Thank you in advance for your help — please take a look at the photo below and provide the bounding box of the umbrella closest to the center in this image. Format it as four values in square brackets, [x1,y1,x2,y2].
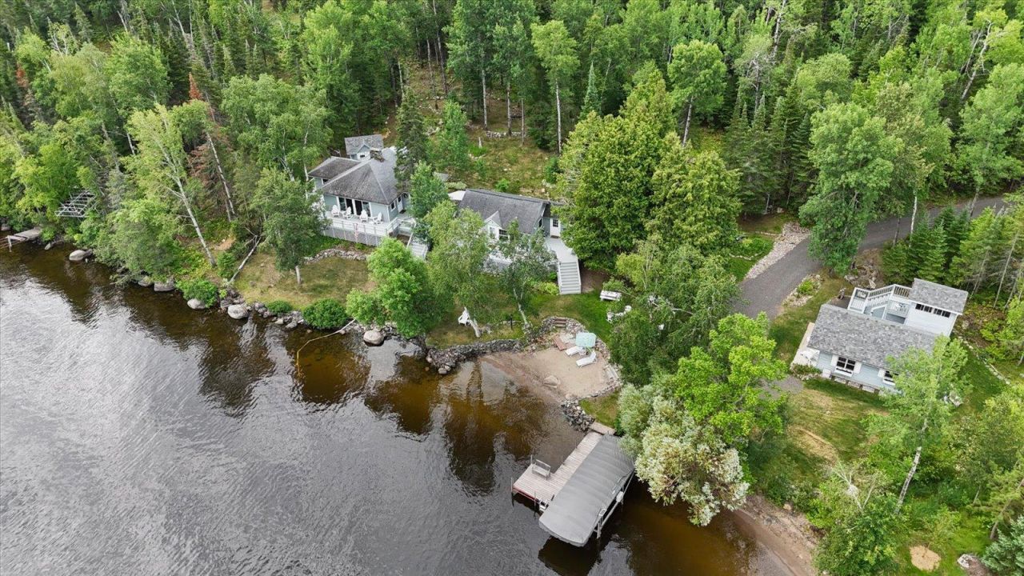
[575,326,600,349]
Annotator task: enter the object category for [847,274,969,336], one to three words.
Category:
shed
